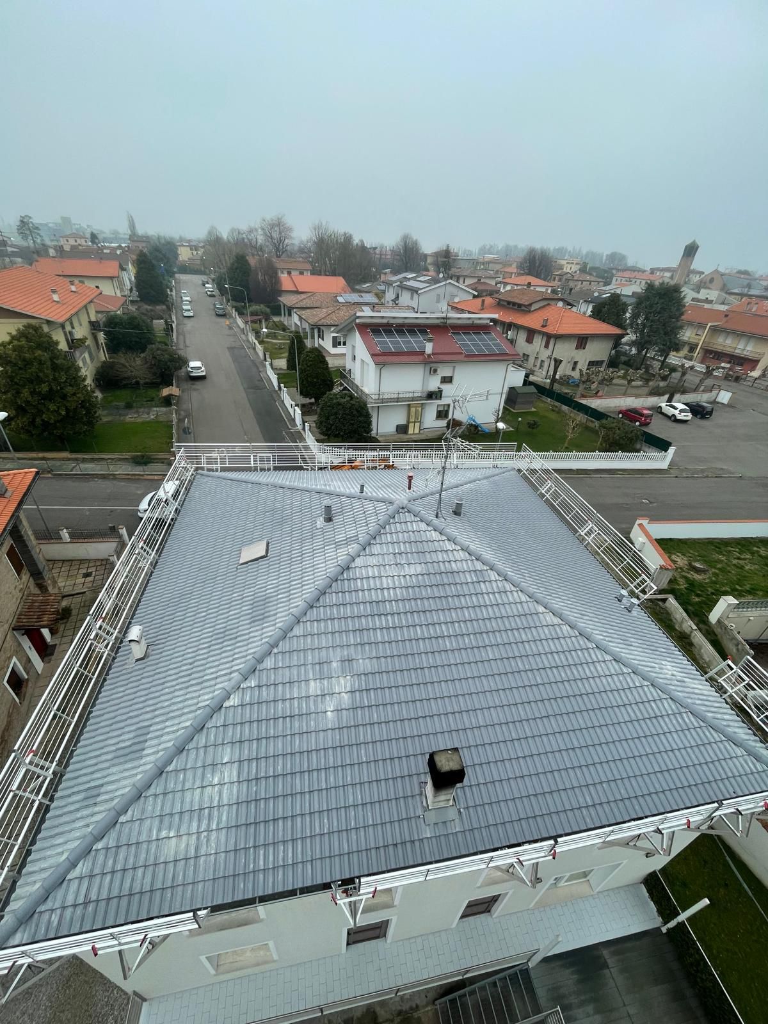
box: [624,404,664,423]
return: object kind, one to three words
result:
car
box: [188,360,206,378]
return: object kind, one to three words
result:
car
